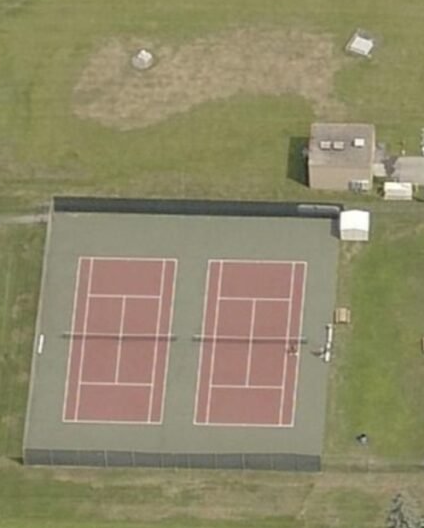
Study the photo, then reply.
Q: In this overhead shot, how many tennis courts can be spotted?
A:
2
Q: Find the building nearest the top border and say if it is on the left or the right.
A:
right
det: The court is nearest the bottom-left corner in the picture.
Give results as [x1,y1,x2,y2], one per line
[63,257,177,424]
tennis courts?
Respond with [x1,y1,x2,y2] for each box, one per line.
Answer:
[194,260,307,427]
[63,257,177,424]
